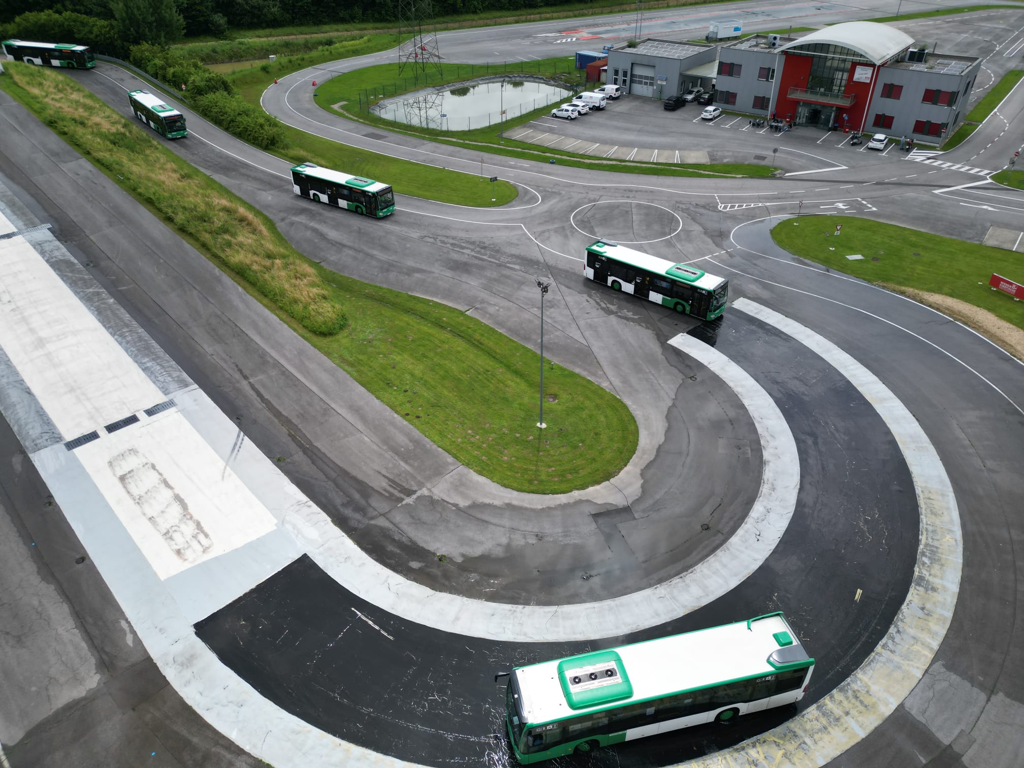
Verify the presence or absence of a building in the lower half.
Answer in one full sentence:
No, there's no building to be seen in the lower half.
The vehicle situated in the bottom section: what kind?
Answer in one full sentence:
From above, the vehicle situated in the bottom section can be identified as a bus.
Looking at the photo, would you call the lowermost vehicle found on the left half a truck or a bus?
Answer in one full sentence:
Looking closely, the lowermost vehicle found on the left half is a bus.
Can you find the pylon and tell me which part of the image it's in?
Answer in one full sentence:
You can find the pylon in the top area of the picture.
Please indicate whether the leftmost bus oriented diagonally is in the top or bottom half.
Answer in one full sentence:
It is in the top half that the leftmost bus oriented diagonally appears.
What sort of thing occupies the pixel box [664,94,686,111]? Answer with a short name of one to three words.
car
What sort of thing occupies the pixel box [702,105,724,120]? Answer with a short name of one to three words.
car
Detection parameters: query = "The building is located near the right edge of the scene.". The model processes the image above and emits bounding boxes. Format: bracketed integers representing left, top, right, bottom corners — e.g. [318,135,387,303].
[713,20,981,145]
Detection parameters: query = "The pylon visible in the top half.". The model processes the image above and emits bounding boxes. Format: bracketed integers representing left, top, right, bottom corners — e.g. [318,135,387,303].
[399,0,443,81]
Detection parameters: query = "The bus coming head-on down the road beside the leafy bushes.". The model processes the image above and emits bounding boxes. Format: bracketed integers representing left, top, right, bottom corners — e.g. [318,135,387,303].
[130,91,188,138]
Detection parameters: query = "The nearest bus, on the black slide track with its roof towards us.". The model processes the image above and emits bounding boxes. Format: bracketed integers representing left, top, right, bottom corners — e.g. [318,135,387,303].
[499,611,814,762]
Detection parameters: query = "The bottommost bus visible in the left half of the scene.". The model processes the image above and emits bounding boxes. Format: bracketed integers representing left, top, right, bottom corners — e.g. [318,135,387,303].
[290,159,400,219]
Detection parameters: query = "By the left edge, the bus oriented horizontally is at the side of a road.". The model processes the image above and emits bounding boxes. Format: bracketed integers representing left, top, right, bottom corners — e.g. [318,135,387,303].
[5,45,94,69]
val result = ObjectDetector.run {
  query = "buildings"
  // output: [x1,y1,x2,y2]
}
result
[713,20,981,145]
[607,37,713,96]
